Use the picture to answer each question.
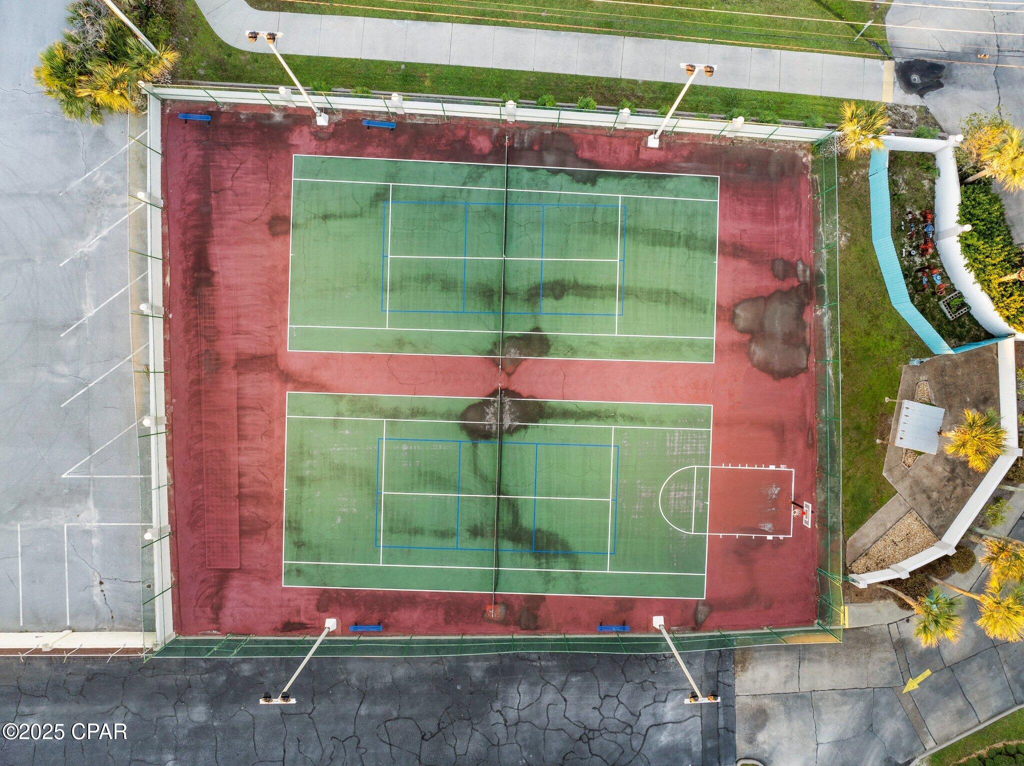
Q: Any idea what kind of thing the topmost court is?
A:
tennis court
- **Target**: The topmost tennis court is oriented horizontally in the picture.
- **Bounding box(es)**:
[287,154,720,363]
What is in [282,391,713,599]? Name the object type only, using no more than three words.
tennis court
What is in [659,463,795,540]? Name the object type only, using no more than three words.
basketball court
